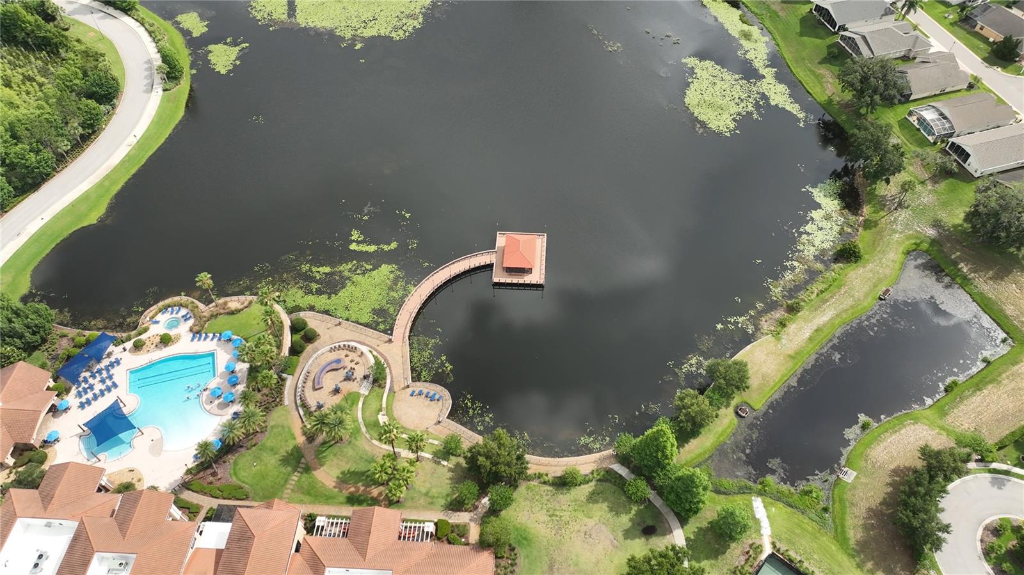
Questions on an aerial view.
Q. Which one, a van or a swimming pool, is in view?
swimming pool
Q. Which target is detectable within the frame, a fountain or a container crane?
fountain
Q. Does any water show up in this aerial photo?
Yes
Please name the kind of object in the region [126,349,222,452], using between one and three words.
swimming pool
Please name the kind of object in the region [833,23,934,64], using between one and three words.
house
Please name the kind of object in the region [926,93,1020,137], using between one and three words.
building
